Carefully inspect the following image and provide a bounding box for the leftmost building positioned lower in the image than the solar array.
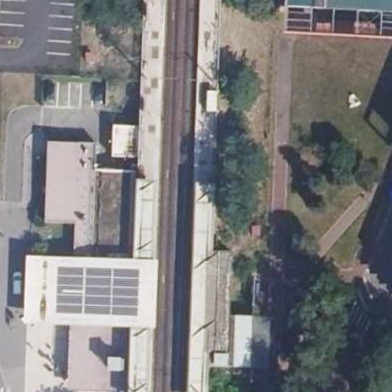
[67,326,112,392]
